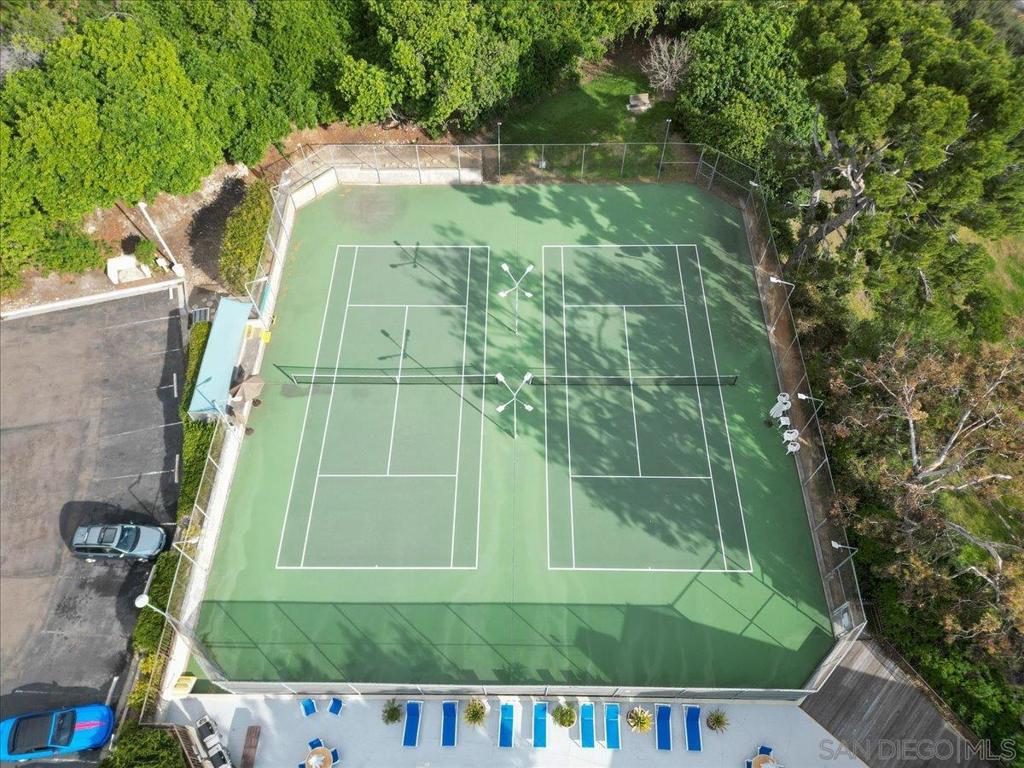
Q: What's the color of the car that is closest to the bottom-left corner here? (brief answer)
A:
blue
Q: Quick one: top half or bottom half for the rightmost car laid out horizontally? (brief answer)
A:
bottom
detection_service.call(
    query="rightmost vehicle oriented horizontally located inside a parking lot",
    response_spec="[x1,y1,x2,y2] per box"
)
[68,521,165,563]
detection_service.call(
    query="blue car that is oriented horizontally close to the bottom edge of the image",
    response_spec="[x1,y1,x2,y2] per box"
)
[0,705,115,767]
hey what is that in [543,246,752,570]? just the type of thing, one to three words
tennis court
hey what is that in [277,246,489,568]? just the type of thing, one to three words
tennis court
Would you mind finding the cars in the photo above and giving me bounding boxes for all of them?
[68,521,165,563]
[0,705,115,767]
